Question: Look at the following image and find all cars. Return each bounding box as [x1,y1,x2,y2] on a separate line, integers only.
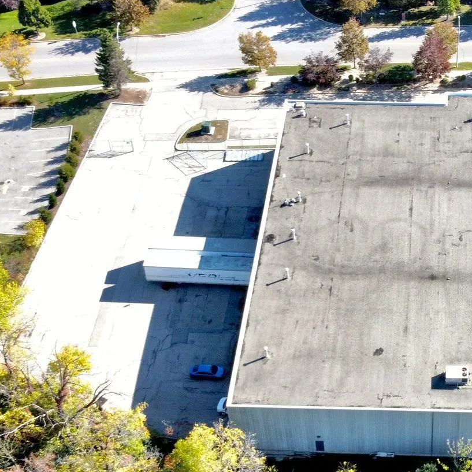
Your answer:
[188,364,226,381]
[213,401,230,422]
